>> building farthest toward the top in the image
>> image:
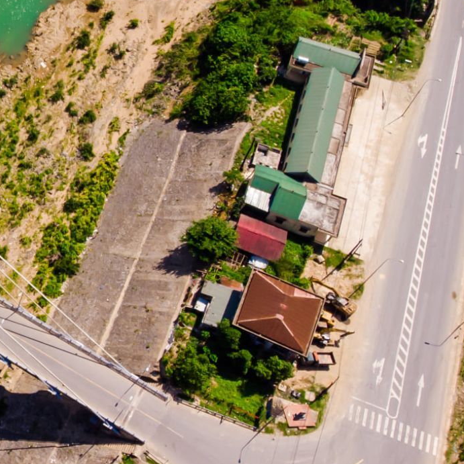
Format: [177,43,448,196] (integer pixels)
[277,37,377,101]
